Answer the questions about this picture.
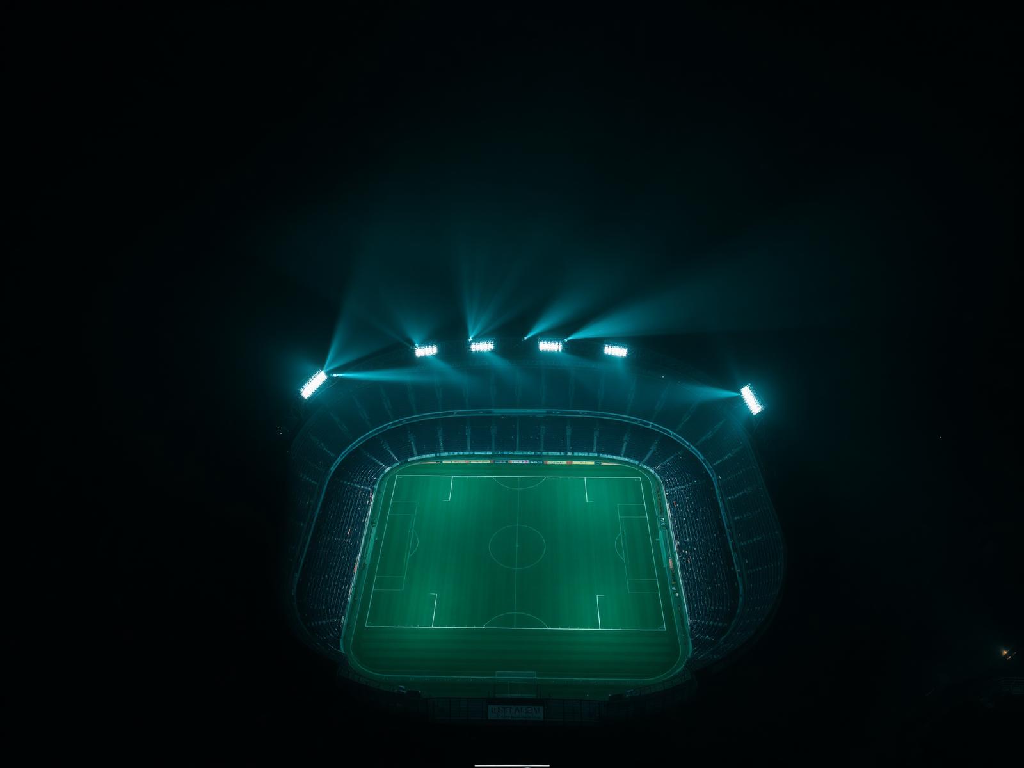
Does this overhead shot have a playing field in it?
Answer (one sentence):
Yes, there's a playing field down there.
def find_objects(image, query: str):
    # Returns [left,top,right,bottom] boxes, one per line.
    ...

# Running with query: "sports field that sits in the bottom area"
[351,462,681,681]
